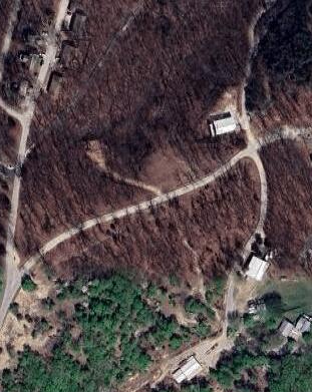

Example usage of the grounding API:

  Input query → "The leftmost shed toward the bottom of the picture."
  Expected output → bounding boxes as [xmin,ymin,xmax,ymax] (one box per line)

[172,357,201,383]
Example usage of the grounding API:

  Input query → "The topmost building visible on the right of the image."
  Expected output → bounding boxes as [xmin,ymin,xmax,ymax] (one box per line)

[210,116,238,136]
